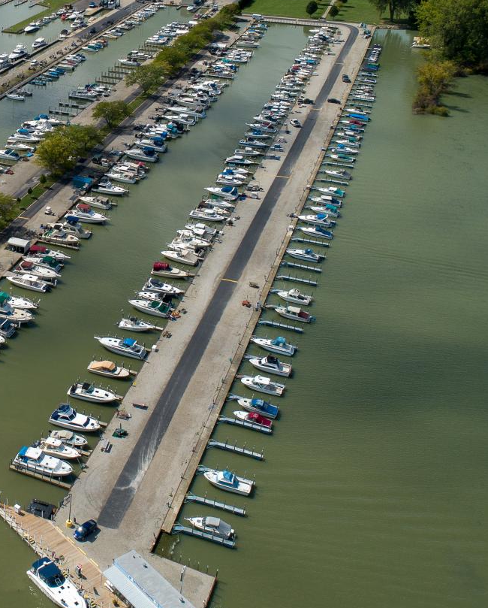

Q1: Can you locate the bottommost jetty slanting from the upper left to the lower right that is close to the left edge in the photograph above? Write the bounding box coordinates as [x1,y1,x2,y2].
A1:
[0,505,118,608]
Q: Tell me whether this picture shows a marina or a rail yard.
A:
marina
